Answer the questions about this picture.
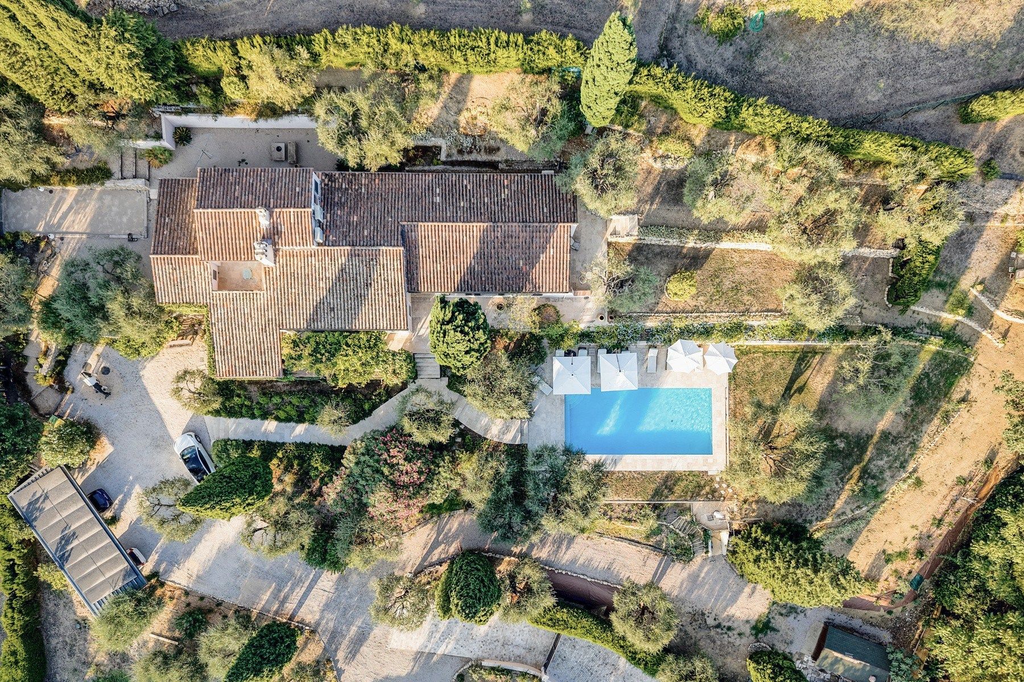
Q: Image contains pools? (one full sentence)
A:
Yes, there's a pool down there.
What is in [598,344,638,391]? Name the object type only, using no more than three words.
umbrella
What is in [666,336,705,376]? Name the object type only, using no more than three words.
umbrella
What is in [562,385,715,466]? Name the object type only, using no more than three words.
swimming pool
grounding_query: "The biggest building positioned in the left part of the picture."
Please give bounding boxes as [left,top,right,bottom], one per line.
[147,167,578,382]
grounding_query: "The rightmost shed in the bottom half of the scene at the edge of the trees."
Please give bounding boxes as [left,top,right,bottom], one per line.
[805,619,893,682]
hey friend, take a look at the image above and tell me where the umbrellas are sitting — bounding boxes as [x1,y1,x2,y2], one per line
[553,347,591,394]
[598,344,638,391]
[666,336,705,376]
[704,340,738,374]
